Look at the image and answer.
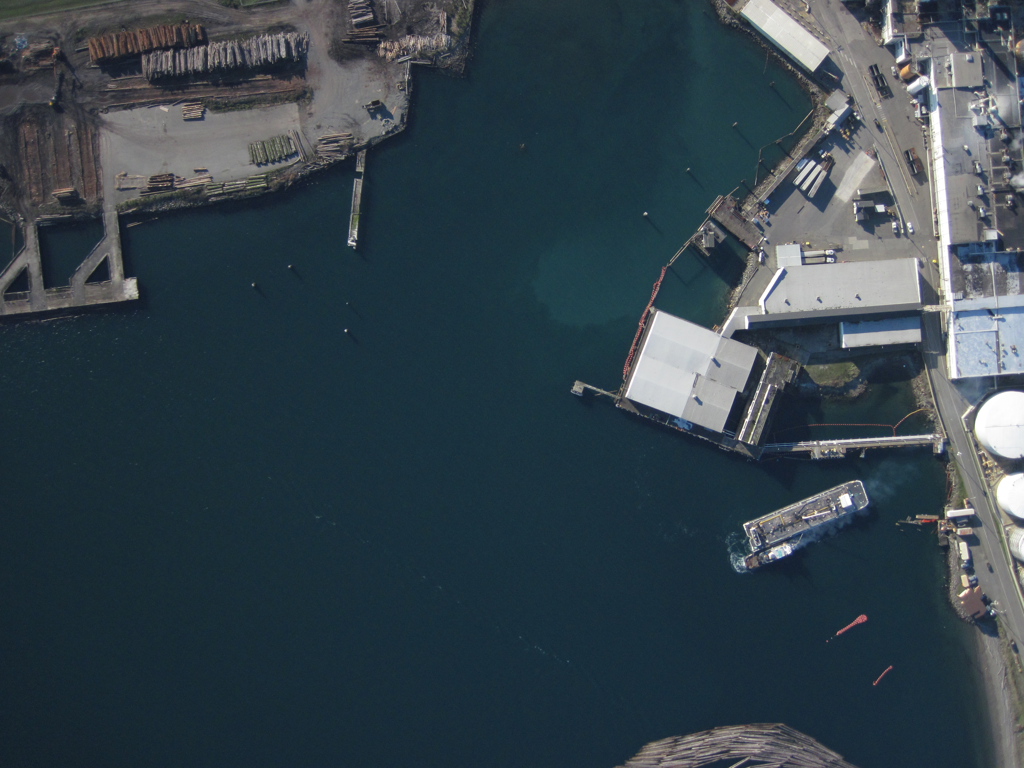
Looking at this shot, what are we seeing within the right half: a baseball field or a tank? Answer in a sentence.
There is a tank within the right half.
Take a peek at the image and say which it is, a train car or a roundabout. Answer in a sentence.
Of the two, only a train car appears.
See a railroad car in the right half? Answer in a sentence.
Yes, there is a railroad car in the right half.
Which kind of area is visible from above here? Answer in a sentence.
It's a port.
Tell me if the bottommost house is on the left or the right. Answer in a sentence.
You can find the bottommost house on the right side of the picture.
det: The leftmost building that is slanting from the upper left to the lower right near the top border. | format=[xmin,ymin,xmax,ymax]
[737,0,829,75]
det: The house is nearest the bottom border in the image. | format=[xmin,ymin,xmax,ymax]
[955,585,986,618]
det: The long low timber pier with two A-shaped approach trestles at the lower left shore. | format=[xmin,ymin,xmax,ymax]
[0,212,139,315]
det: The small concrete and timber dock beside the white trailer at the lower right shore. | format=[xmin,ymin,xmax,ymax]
[935,507,953,546]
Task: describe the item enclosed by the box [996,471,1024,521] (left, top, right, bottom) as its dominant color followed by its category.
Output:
white storage tank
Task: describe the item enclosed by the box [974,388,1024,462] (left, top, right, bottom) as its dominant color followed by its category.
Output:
white storage tank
